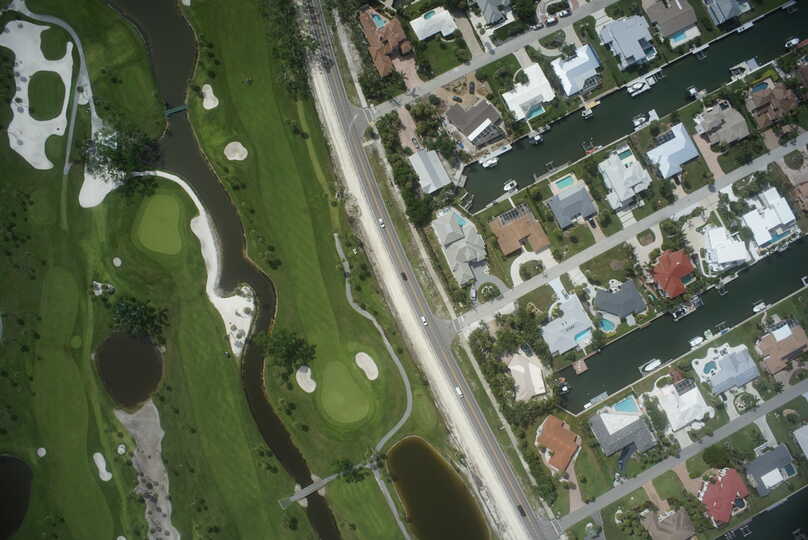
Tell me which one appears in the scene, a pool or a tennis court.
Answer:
pool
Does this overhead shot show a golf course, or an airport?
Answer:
golf course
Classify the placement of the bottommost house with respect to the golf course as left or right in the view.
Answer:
to its right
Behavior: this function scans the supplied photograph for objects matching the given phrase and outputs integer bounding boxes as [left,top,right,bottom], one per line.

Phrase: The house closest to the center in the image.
[432,212,488,287]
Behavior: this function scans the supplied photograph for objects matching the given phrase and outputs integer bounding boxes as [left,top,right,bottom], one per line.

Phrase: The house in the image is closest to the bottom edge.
[641,508,697,540]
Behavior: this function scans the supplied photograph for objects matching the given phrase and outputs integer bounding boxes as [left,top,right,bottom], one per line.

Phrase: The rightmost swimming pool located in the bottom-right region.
[783,462,798,479]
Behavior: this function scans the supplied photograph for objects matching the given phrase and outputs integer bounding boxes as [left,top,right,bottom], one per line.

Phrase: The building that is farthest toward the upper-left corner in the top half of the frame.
[362,8,412,77]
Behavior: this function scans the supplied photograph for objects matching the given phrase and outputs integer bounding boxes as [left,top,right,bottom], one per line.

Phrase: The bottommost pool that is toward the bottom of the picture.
[732,497,748,513]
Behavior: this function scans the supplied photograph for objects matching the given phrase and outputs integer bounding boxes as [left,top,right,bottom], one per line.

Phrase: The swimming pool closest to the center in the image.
[441,206,474,231]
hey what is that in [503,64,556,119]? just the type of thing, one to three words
house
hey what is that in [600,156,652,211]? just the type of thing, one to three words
house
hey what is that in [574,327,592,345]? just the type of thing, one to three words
swimming pool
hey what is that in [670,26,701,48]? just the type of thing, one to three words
swimming pool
